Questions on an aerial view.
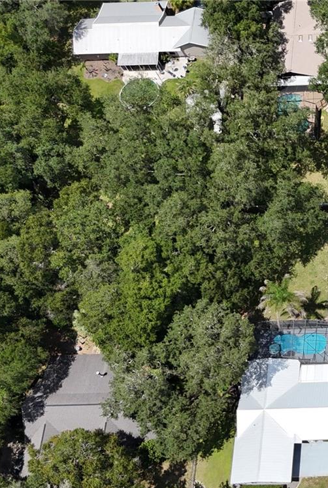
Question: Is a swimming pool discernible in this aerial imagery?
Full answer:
Yes, a swimming pool is visible in the scene.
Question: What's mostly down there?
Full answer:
The bulk of the photo consists of trees.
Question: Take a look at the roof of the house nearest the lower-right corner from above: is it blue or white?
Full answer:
The color of the roof of the house nearest the lower-right corner is white.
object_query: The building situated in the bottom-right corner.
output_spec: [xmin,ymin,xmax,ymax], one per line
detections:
[231,355,328,486]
